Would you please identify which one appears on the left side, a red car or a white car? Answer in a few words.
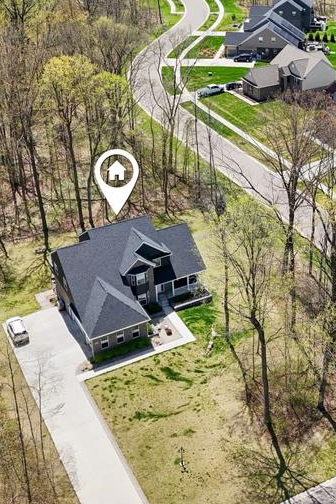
white car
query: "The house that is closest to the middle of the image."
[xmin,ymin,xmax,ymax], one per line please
[43,211,205,356]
